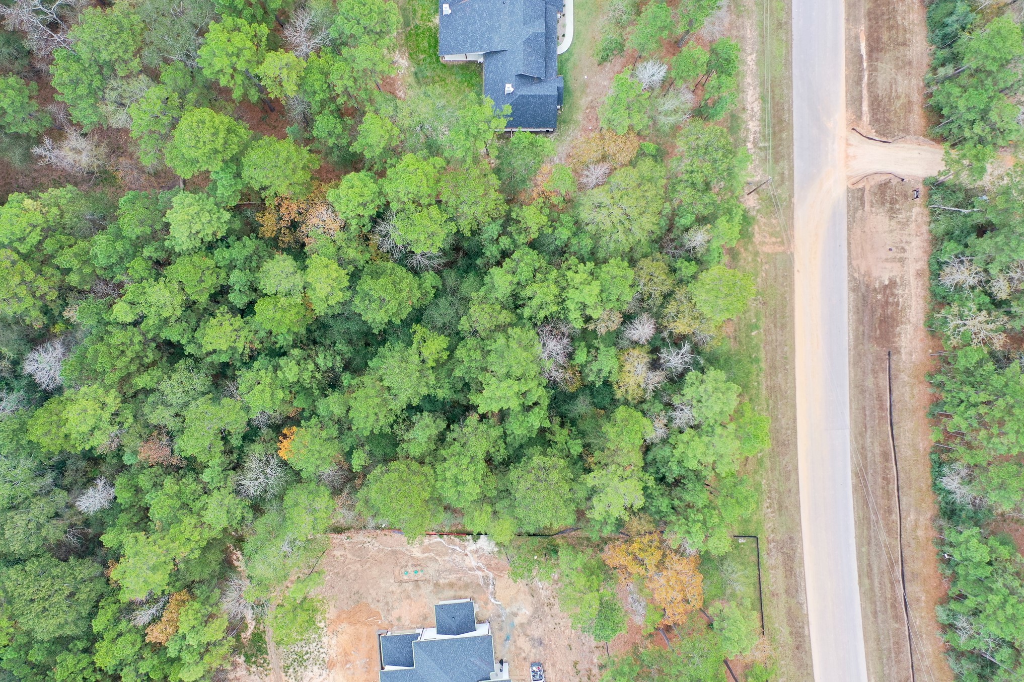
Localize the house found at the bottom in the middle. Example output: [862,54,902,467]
[376,596,511,682]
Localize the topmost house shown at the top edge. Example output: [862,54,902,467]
[439,0,563,132]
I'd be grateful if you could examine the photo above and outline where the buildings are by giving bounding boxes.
[376,596,511,682]
[439,0,563,132]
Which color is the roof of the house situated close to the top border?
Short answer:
blue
